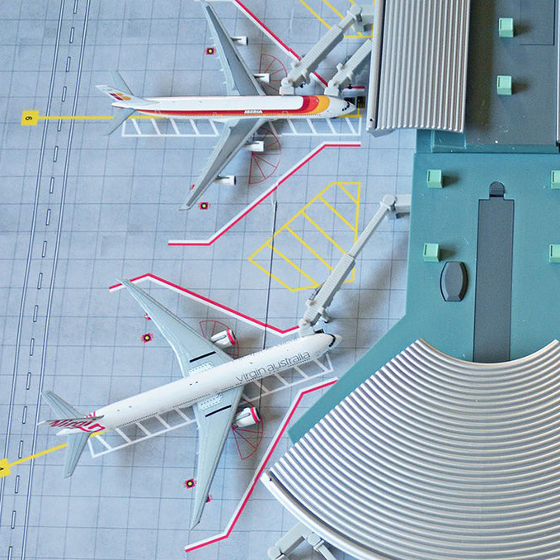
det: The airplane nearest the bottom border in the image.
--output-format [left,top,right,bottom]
[40,279,341,526]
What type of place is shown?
airport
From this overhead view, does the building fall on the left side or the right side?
right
